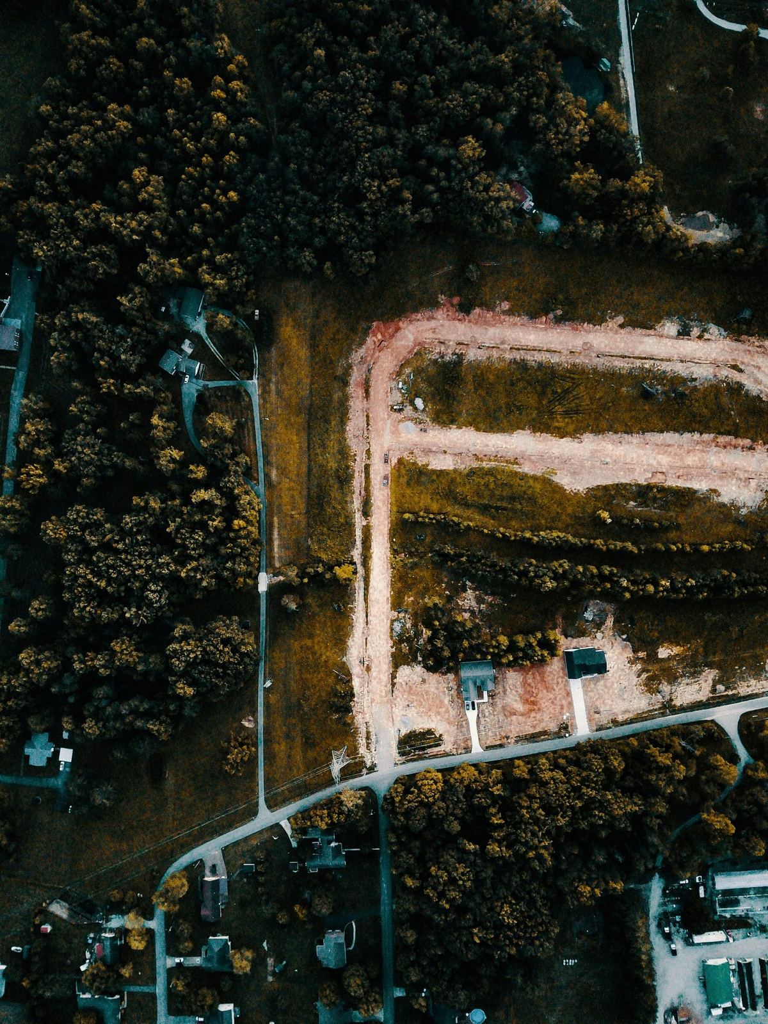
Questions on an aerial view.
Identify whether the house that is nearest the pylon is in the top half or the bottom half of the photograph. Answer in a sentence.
The house that is nearest the pylon sits in the bottom half of the picture.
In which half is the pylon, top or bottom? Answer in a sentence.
The pylon is in the bottom half of the image.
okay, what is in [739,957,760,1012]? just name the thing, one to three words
shed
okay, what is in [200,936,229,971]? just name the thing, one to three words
house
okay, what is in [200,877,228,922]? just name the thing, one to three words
house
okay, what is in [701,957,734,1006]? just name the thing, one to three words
building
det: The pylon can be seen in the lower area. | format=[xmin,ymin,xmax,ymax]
[331,745,351,788]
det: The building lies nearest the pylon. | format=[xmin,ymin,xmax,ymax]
[303,828,346,872]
